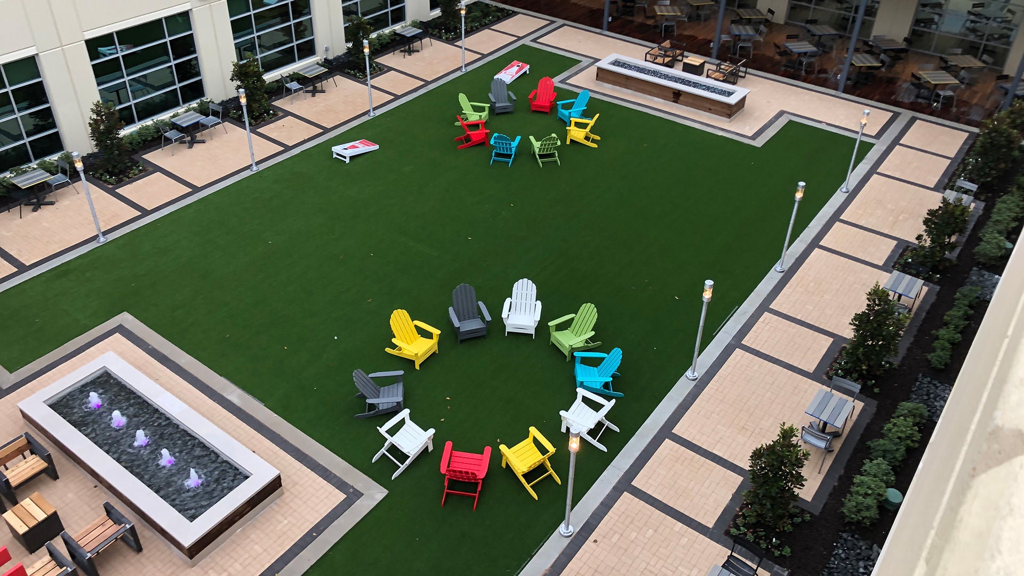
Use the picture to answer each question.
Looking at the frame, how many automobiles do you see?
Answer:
none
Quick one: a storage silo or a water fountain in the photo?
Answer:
water fountain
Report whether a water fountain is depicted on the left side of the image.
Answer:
Yes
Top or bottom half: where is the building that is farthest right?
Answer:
bottom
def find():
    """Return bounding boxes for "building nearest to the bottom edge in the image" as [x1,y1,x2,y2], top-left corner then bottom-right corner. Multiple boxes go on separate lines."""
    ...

[875,224,1024,576]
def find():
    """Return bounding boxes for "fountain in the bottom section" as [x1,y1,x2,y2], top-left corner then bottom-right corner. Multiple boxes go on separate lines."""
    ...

[20,350,283,569]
